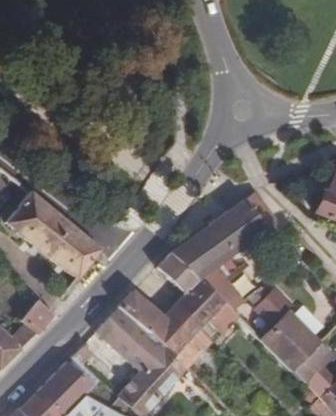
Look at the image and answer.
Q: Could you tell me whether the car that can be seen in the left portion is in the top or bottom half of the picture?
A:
bottom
